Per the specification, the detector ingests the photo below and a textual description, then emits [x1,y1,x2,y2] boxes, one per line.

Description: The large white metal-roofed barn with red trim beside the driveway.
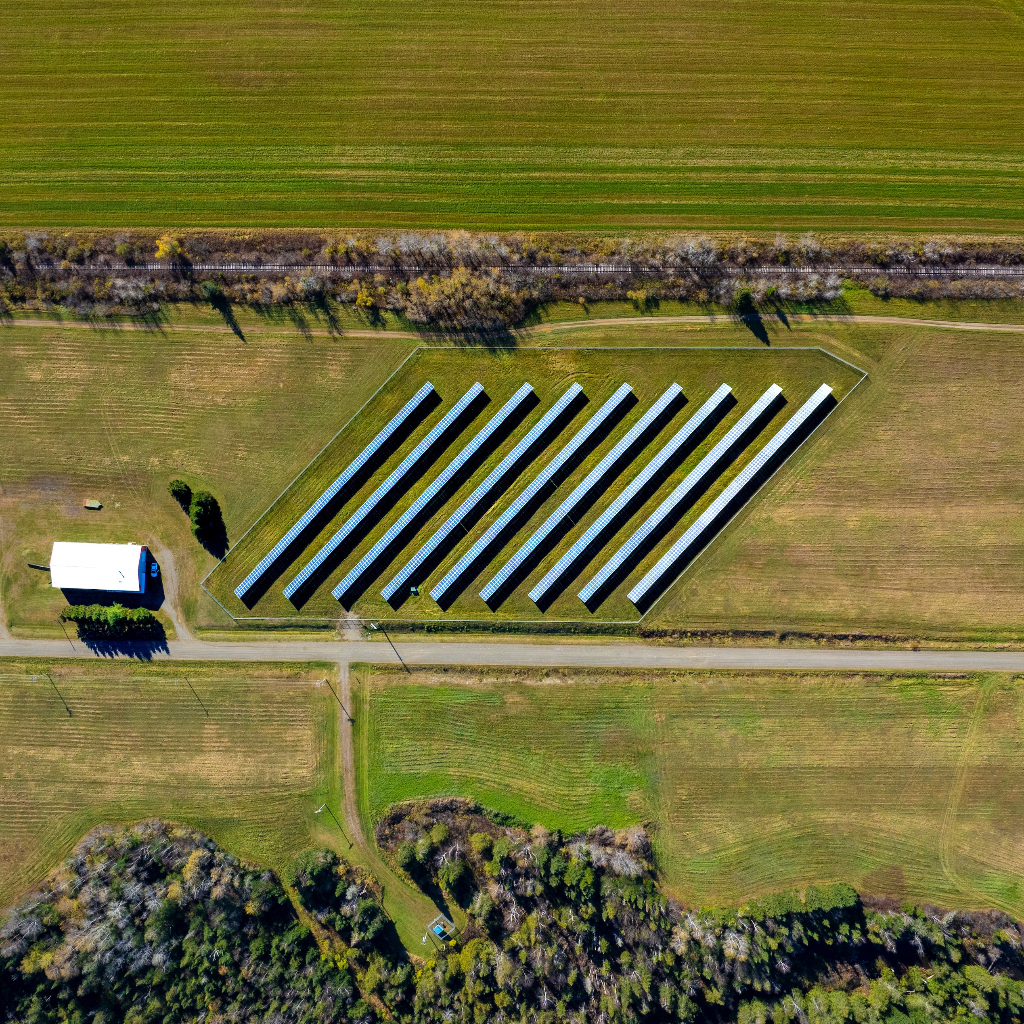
[50,542,146,592]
